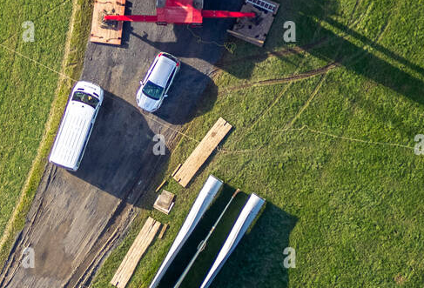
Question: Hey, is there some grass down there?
Yes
